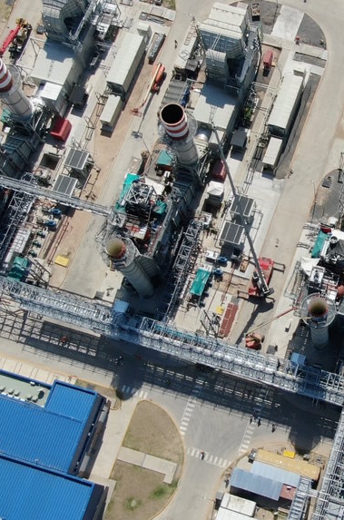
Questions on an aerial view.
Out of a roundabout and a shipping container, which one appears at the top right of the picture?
shipping container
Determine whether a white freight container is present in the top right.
Yes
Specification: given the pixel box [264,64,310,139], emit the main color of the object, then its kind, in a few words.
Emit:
white shipping container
